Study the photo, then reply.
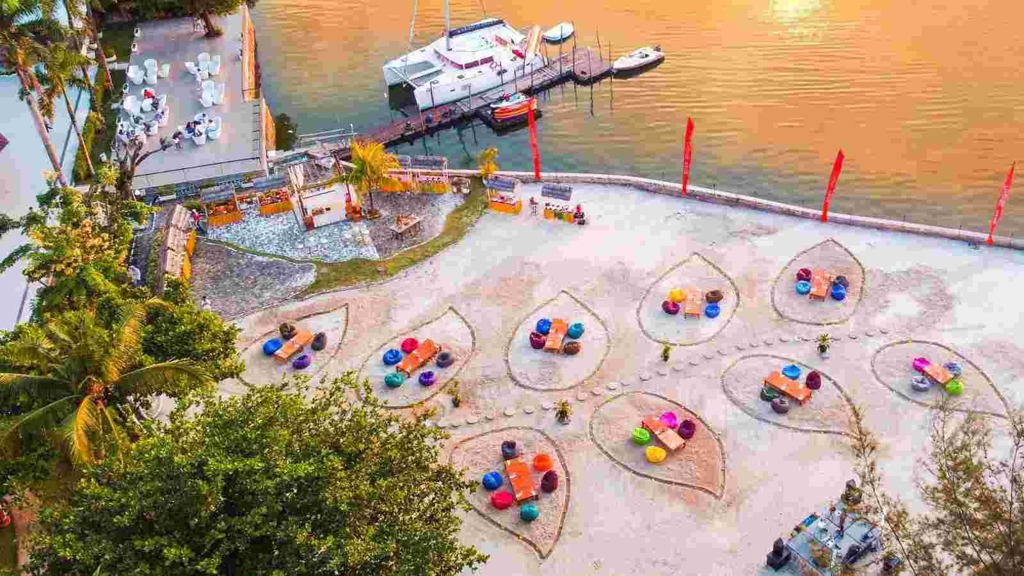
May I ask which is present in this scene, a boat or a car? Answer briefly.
boat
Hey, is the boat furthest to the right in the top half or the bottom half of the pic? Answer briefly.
top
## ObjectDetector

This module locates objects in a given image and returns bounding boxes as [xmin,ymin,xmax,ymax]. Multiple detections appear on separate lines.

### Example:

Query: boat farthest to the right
[614,46,669,72]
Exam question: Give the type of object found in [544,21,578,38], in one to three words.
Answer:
boat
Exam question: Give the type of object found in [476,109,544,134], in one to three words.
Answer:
pier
